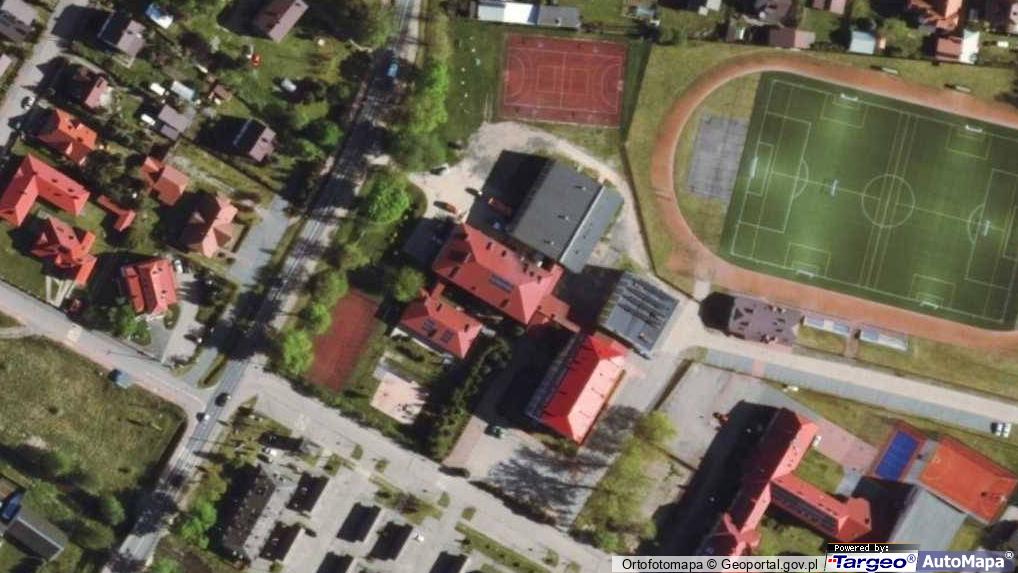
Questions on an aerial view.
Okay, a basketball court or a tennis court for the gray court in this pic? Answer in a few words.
basketball court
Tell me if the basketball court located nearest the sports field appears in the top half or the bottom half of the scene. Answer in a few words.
top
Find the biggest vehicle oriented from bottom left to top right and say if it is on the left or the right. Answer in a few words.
left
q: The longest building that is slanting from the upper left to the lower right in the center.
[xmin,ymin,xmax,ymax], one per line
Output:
[432,223,581,333]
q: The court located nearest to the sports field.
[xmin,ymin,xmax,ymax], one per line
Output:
[687,115,750,198]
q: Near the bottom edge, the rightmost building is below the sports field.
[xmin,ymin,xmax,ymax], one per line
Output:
[879,487,967,573]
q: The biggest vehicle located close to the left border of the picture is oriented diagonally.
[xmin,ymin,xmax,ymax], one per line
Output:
[2,492,23,518]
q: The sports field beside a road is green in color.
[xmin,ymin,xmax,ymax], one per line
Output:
[726,70,1018,334]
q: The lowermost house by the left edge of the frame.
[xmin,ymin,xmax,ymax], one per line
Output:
[5,502,69,561]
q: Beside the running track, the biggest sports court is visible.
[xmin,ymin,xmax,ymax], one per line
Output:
[498,34,628,127]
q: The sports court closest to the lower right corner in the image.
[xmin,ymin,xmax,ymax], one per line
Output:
[920,437,1017,524]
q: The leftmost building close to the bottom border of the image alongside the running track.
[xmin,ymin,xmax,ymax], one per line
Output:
[673,408,871,573]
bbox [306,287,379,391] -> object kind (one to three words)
sports court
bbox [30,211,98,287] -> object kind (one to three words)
house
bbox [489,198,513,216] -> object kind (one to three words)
vehicle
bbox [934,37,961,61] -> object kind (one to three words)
building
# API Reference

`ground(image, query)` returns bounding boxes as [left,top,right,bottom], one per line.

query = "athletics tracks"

[646,48,1018,364]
